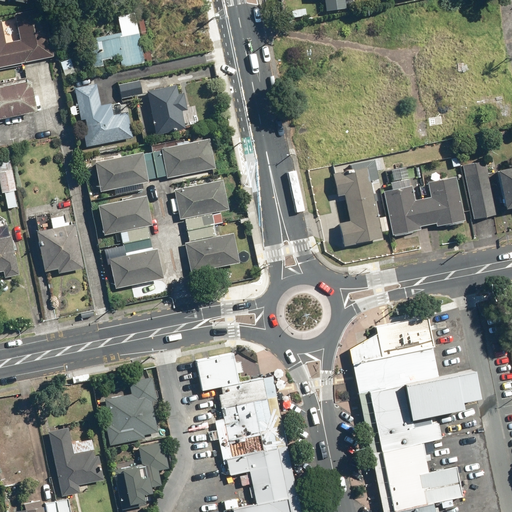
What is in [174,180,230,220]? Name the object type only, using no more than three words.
building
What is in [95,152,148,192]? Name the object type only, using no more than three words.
building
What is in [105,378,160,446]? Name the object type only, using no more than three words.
house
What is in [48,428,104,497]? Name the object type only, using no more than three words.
house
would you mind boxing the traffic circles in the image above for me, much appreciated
[276,284,331,340]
